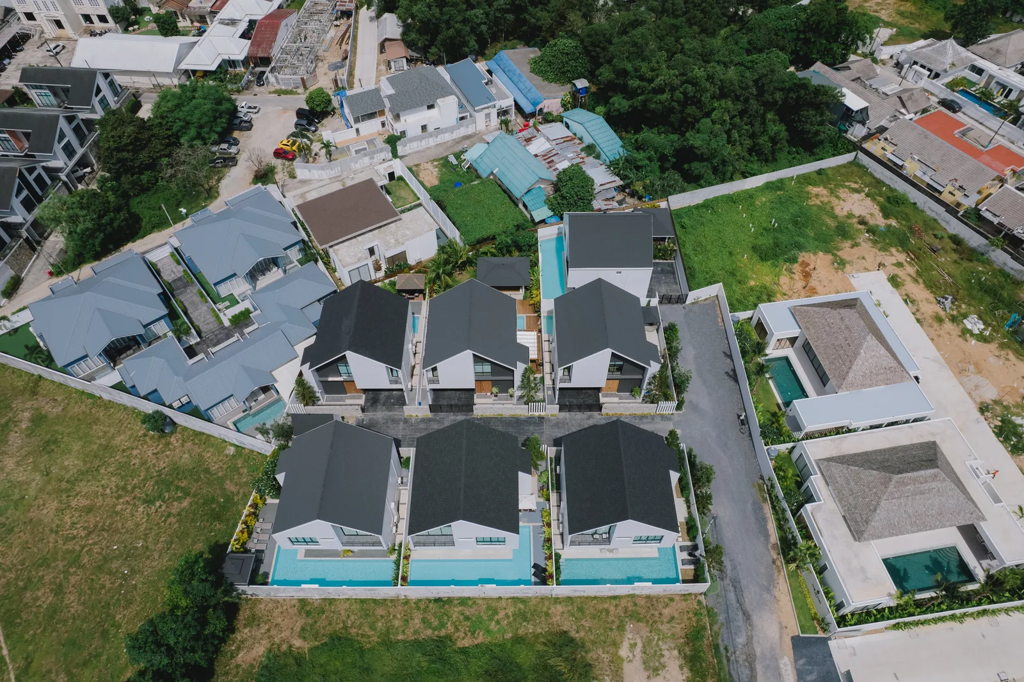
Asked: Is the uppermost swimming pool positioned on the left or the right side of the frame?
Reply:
right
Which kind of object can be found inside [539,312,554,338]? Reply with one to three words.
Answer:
swimming pool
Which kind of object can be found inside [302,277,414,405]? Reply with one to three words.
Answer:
house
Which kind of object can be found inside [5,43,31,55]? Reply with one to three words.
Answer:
vehicle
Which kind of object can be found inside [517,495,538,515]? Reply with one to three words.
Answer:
umbrella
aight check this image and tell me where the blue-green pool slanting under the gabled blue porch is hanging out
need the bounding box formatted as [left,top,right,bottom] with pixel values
[231,398,288,436]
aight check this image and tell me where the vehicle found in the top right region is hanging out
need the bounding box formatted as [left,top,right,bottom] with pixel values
[935,100,962,114]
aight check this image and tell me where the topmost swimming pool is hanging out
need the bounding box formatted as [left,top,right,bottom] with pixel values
[955,90,1010,119]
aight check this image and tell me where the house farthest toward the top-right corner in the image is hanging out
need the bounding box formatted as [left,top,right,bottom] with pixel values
[966,28,1024,75]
